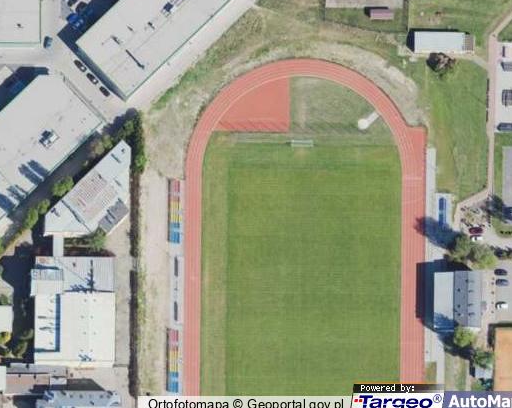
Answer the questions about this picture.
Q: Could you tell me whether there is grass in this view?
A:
Yes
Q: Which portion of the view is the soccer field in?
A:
center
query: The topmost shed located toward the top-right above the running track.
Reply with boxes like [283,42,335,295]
[369,8,395,21]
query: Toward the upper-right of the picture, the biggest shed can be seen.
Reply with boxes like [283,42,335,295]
[415,33,464,55]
